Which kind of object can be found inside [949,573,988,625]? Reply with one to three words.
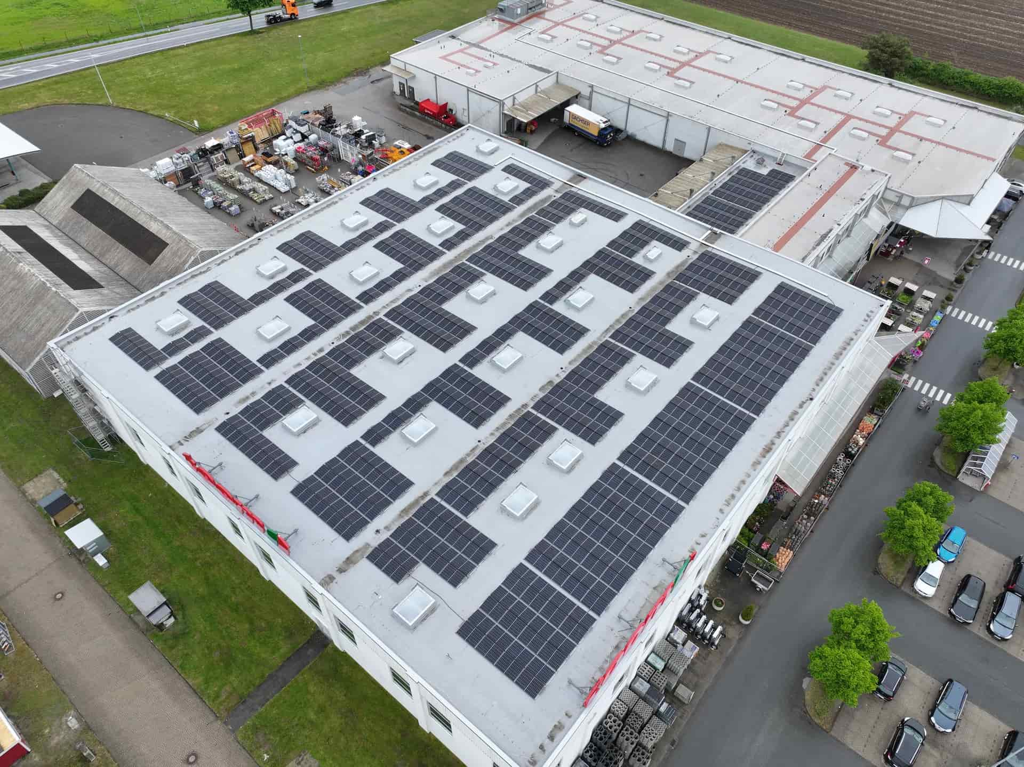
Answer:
car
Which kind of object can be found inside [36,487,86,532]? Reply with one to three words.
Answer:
shed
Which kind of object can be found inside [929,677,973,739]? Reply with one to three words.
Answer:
car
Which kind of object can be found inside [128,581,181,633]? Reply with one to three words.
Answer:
shed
